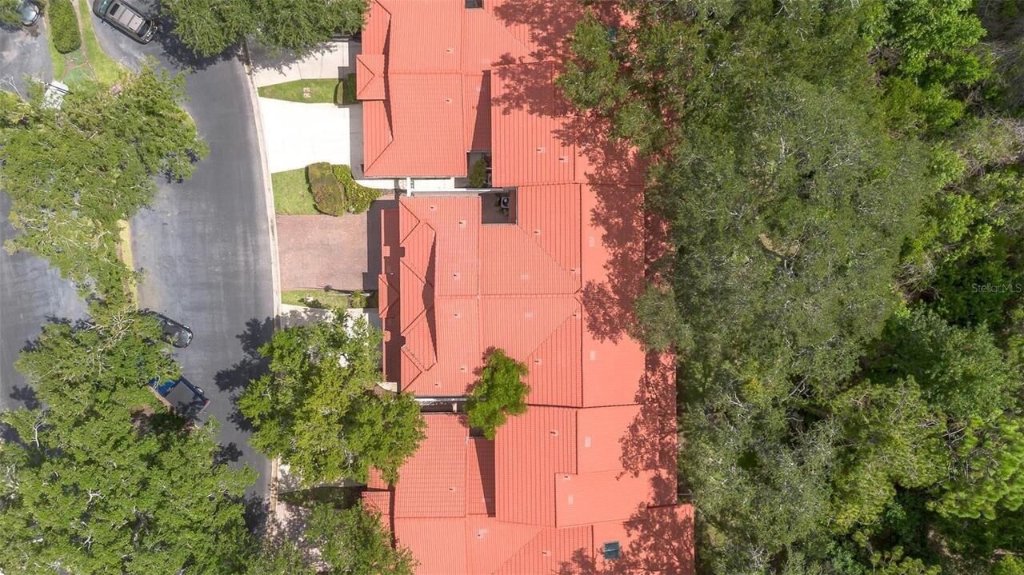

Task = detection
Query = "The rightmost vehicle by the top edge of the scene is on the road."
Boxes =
[86,0,165,48]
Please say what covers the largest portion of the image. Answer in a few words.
trees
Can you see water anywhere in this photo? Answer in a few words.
No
